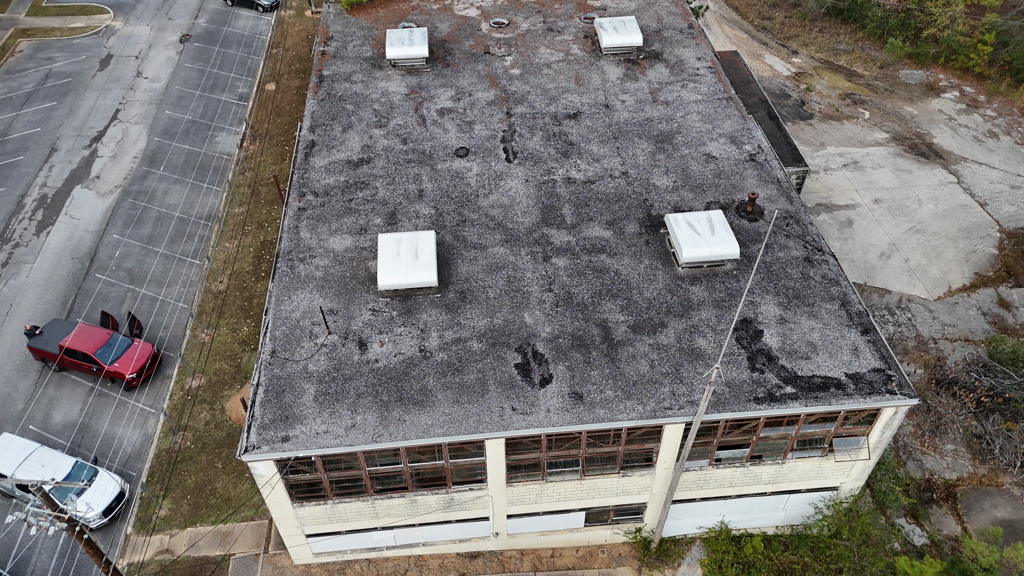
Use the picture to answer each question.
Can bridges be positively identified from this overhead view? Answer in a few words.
No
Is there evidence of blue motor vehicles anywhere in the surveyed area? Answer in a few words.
No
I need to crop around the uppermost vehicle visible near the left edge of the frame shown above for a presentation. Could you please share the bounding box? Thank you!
[27,309,168,392]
